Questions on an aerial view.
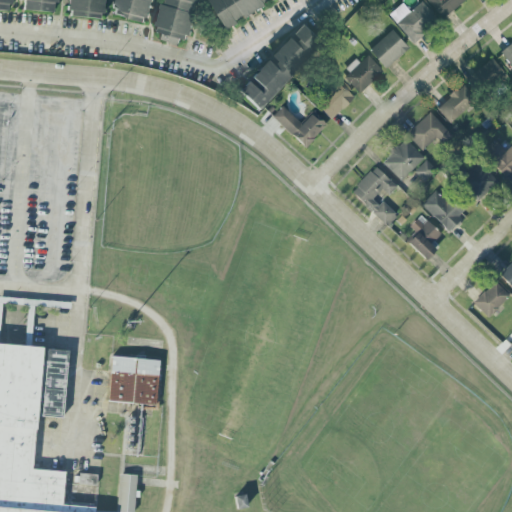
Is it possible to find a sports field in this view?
Yes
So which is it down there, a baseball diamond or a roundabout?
baseball diamond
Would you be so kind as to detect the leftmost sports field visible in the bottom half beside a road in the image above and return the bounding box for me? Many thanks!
[180,203,350,452]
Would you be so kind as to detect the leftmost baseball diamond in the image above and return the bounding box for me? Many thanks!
[102,109,240,252]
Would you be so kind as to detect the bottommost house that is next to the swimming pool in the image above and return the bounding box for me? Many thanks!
[274,104,330,147]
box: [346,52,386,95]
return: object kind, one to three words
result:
house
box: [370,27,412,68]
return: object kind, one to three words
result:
house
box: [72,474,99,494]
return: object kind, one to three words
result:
shed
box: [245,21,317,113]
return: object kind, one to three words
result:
building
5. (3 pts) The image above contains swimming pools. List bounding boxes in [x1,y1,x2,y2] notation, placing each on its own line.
[288,90,306,118]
